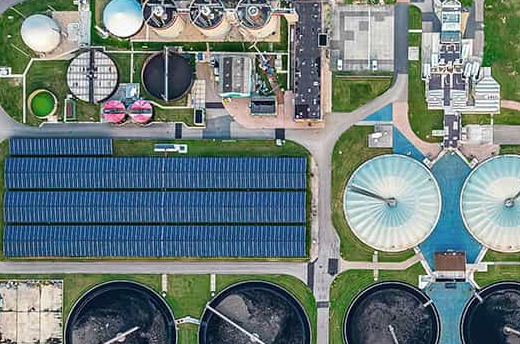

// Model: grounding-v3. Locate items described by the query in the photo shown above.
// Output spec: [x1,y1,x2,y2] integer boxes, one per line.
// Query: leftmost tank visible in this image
[29,89,59,123]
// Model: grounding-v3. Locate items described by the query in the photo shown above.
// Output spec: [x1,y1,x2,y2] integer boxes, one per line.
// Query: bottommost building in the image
[435,249,466,280]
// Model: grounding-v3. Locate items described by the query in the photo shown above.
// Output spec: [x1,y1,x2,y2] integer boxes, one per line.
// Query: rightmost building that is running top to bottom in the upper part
[422,0,500,148]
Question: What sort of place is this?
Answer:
industrial area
